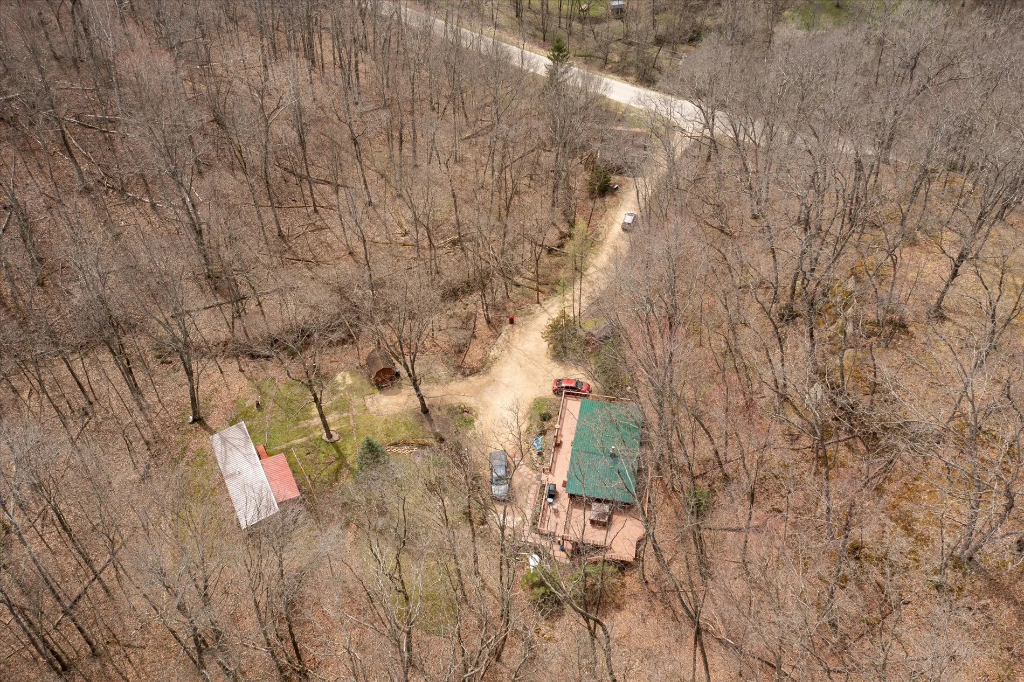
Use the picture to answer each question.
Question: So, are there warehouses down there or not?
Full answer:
No, the scene contains no warehouse.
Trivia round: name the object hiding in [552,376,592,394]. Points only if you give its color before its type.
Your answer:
red car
